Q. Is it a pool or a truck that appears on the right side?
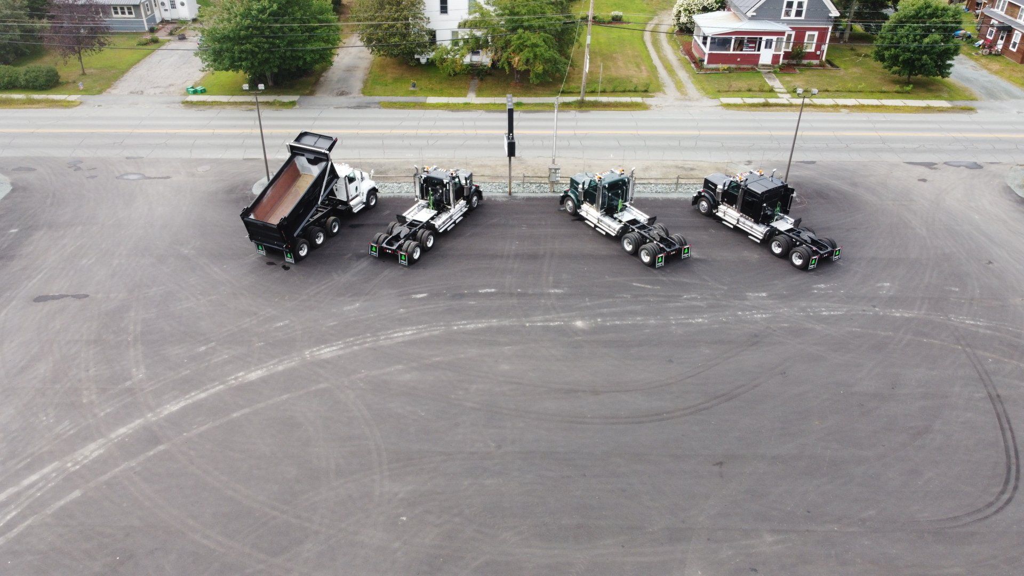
truck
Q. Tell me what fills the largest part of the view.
paved ground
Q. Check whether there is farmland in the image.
No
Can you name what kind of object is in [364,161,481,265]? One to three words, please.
truck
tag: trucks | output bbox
[561,160,696,267]
[236,128,380,262]
[364,161,481,265]
[694,156,848,271]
